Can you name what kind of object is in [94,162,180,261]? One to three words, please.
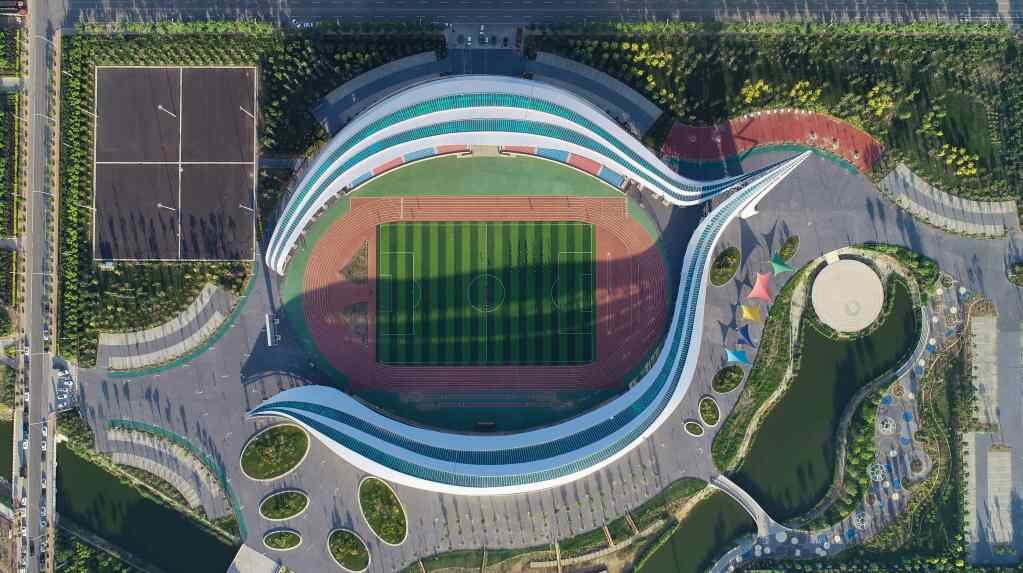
sports court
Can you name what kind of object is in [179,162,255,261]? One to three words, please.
sports court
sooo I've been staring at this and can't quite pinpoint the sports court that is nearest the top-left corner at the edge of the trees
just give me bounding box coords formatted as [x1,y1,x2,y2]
[95,67,181,162]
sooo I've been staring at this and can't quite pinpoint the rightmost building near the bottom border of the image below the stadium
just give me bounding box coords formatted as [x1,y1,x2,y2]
[230,539,284,573]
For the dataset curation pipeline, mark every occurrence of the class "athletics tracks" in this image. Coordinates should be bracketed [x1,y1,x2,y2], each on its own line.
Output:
[302,197,667,389]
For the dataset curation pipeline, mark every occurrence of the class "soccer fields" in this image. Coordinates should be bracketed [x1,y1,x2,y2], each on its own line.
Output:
[377,222,596,363]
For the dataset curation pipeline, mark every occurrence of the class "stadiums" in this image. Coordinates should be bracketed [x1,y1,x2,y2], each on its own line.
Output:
[250,75,811,495]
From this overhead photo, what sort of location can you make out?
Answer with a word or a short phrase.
sports ground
